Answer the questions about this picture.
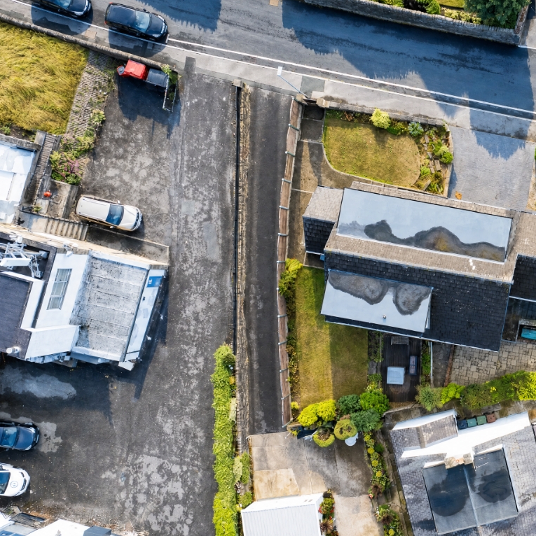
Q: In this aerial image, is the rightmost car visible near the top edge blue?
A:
Yes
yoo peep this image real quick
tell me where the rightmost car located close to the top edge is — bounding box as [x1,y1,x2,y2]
[101,1,173,45]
